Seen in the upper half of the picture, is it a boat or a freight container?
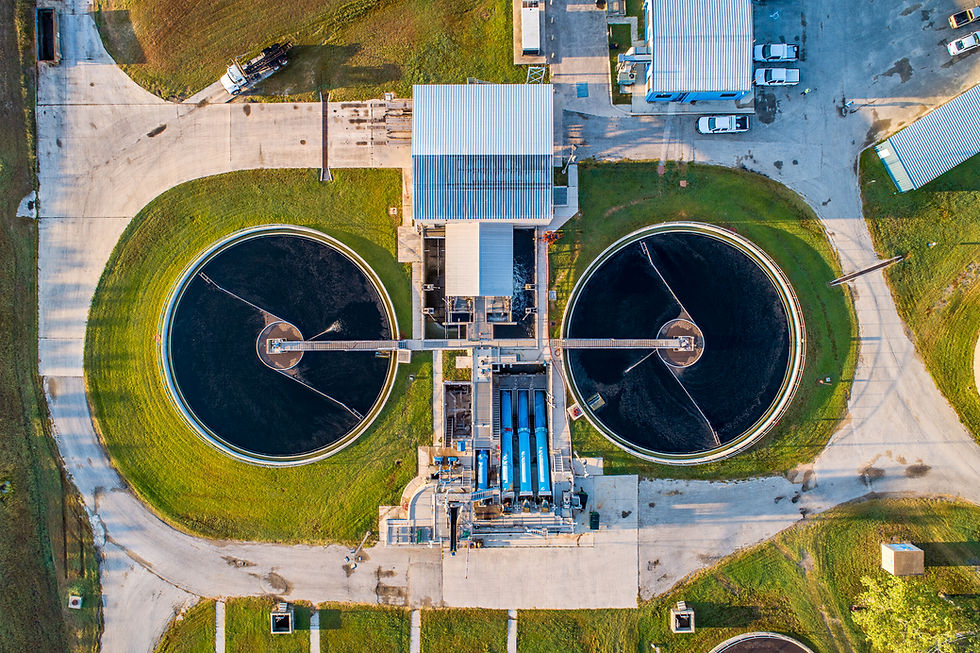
freight container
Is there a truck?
Yes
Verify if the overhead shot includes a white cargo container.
No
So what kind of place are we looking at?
industrial area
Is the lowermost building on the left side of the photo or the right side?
right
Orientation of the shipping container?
vertically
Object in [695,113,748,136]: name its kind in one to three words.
truck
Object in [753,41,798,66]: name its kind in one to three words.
truck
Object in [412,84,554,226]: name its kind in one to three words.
building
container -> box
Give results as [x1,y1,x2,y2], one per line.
[36,8,65,65]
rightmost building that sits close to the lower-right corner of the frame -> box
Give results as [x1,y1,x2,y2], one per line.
[881,545,924,575]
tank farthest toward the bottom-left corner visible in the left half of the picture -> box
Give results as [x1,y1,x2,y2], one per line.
[160,225,402,466]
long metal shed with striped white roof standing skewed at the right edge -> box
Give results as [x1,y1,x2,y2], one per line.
[872,86,980,193]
